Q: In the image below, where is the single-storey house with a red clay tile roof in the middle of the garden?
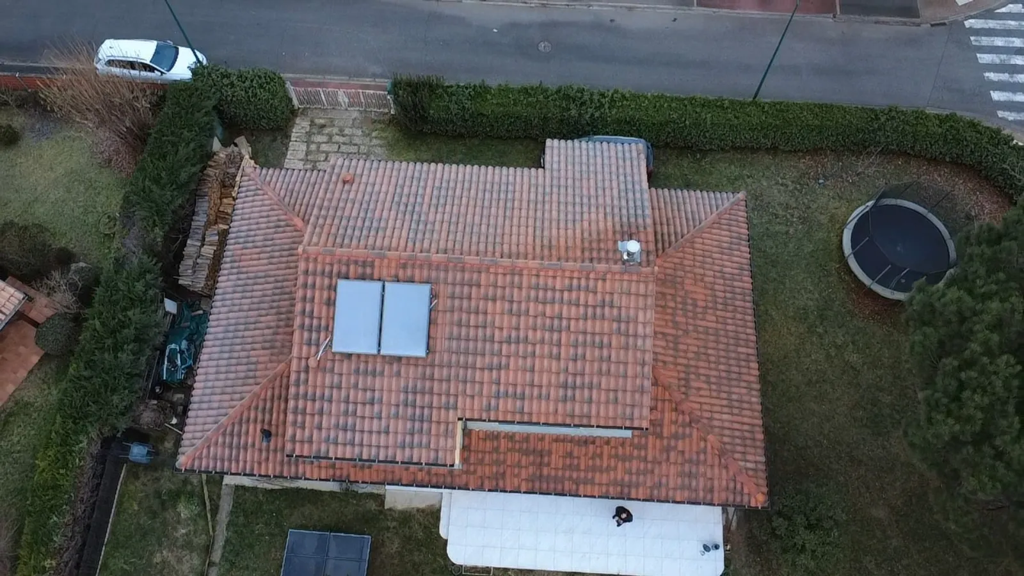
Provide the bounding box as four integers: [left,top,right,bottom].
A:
[170,136,773,526]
